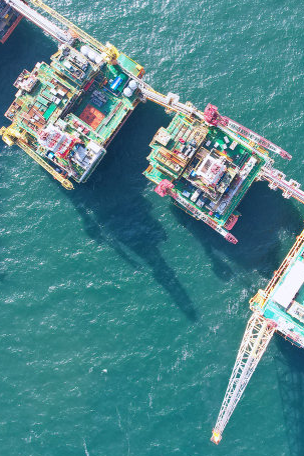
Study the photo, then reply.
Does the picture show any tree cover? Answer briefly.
No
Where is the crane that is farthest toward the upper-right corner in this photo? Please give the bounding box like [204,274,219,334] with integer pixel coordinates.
[199,104,292,160]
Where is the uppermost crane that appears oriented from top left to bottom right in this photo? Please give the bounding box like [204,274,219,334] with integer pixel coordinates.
[31,0,124,65]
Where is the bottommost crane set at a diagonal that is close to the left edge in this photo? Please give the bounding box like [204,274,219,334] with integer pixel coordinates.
[0,125,72,188]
